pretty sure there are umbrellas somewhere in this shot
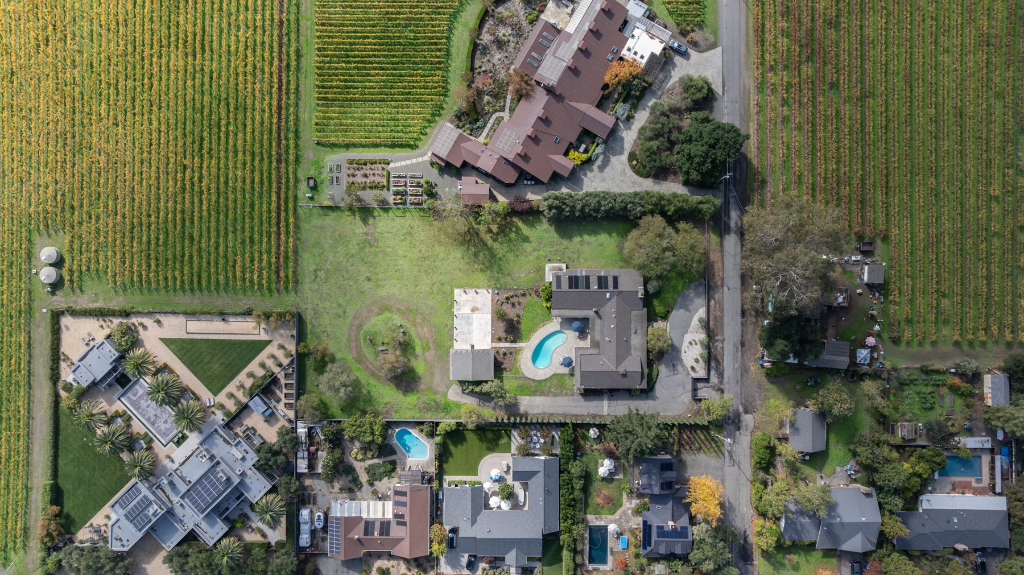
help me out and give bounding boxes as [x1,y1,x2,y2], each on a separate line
[598,466,608,476]
[571,321,582,332]
[500,499,511,510]
[603,457,614,469]
[489,496,500,506]
[562,356,572,367]
[490,467,500,477]
[588,427,599,437]
[483,481,493,491]
[864,336,874,346]
[608,522,619,533]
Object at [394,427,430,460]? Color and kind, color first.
blue swimming pool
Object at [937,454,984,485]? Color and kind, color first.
blue swimming pool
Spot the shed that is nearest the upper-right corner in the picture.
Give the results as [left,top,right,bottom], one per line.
[862,265,884,283]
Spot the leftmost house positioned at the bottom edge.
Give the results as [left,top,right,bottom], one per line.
[109,423,276,551]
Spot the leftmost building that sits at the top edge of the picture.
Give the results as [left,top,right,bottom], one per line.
[487,0,629,183]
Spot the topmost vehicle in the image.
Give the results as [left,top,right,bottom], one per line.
[669,38,688,52]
